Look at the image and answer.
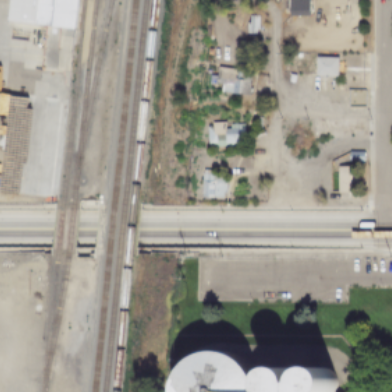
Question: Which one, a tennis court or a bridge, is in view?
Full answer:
There is a bridge in the scene.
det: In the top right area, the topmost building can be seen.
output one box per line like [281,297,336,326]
[290,0,312,15]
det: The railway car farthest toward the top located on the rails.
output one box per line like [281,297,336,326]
[150,0,163,30]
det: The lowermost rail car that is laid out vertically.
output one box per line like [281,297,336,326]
[114,347,126,389]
